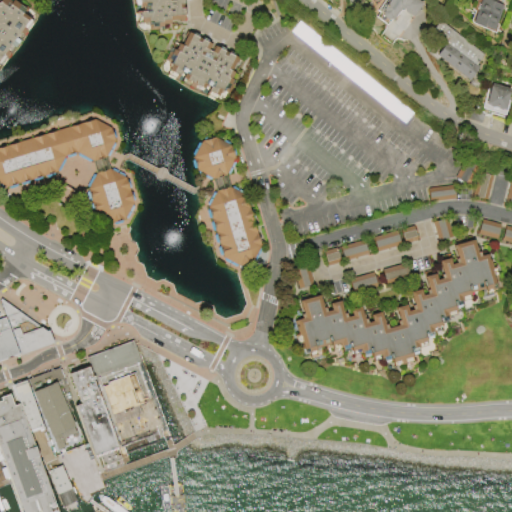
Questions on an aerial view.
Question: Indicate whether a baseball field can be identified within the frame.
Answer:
No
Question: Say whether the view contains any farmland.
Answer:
No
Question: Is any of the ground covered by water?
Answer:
Yes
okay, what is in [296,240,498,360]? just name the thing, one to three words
building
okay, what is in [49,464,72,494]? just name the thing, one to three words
shed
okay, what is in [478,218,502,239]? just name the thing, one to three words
house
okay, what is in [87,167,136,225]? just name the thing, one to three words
building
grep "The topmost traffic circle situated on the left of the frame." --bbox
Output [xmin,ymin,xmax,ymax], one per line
[46,300,84,338]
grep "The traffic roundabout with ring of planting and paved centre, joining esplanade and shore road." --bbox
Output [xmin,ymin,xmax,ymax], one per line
[235,356,275,396]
